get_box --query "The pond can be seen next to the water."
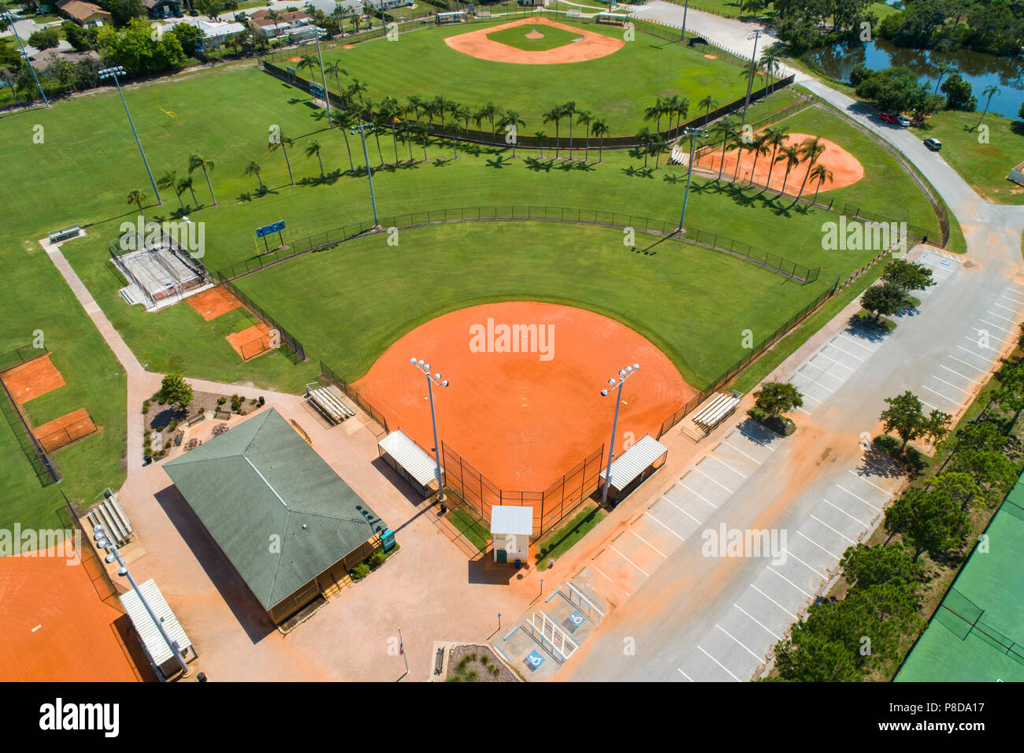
[797,36,1024,122]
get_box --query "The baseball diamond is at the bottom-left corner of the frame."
[0,520,188,753]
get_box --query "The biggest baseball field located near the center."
[225,220,833,535]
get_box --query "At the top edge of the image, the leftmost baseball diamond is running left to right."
[270,17,792,149]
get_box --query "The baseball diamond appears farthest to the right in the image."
[695,103,946,246]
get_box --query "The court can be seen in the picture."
[852,472,1024,753]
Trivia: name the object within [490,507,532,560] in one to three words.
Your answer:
building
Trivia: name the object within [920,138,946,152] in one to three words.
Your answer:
car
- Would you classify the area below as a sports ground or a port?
sports ground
